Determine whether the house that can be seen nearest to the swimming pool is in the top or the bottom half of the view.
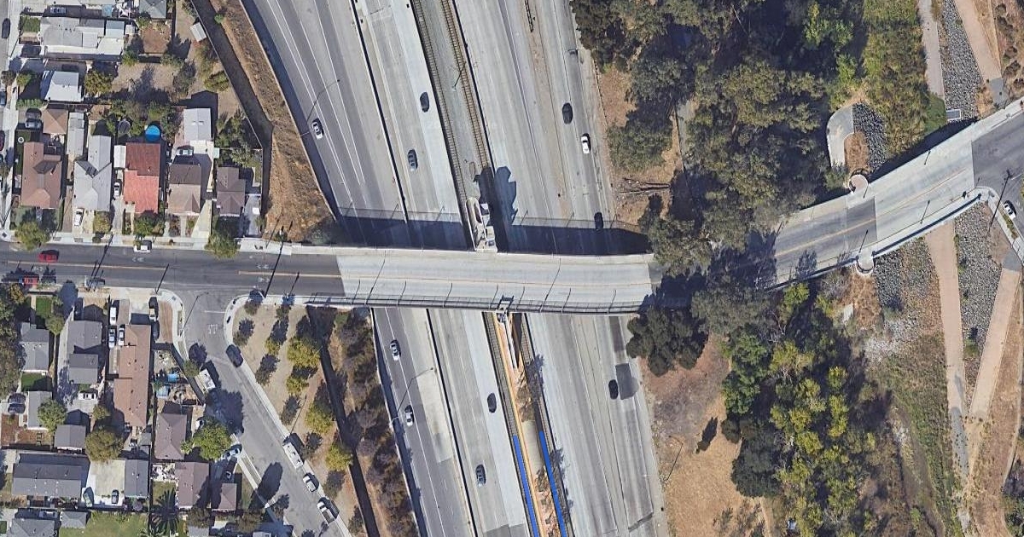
top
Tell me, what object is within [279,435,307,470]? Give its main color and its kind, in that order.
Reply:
white camper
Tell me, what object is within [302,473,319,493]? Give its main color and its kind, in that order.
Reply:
white car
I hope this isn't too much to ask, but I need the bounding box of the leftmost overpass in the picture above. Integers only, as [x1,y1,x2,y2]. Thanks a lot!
[292,245,655,315]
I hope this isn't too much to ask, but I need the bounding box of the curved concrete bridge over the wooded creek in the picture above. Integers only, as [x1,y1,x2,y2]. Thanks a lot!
[748,122,983,297]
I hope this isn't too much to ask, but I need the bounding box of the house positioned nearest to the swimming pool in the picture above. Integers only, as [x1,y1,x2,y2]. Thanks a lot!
[124,142,160,213]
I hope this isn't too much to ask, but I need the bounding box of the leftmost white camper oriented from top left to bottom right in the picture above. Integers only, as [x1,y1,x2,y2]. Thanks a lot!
[197,368,217,393]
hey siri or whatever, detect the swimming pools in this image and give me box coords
[144,124,162,142]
